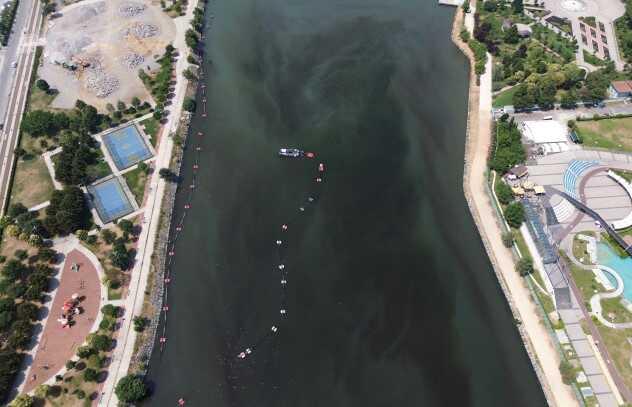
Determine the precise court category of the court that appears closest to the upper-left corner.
basketball court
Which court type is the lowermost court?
tennis court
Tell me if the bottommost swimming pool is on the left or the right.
right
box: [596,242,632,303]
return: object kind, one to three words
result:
swimming pool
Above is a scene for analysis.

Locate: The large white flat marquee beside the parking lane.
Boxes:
[523,120,567,146]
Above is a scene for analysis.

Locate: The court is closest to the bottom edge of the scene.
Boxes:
[86,172,134,224]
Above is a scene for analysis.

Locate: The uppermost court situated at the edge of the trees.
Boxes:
[100,120,152,169]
